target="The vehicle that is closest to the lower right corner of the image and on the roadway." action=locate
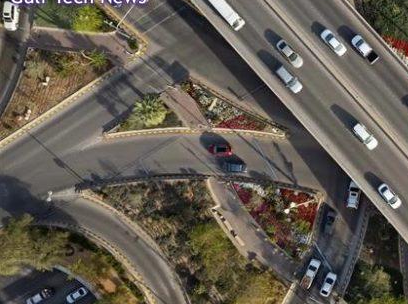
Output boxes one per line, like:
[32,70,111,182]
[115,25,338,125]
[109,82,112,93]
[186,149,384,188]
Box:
[320,270,338,298]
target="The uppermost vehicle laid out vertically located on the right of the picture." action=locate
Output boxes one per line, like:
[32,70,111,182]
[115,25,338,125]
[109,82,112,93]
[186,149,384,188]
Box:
[346,180,359,210]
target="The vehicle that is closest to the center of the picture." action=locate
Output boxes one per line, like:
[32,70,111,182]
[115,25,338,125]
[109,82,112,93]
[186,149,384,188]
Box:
[208,144,233,156]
